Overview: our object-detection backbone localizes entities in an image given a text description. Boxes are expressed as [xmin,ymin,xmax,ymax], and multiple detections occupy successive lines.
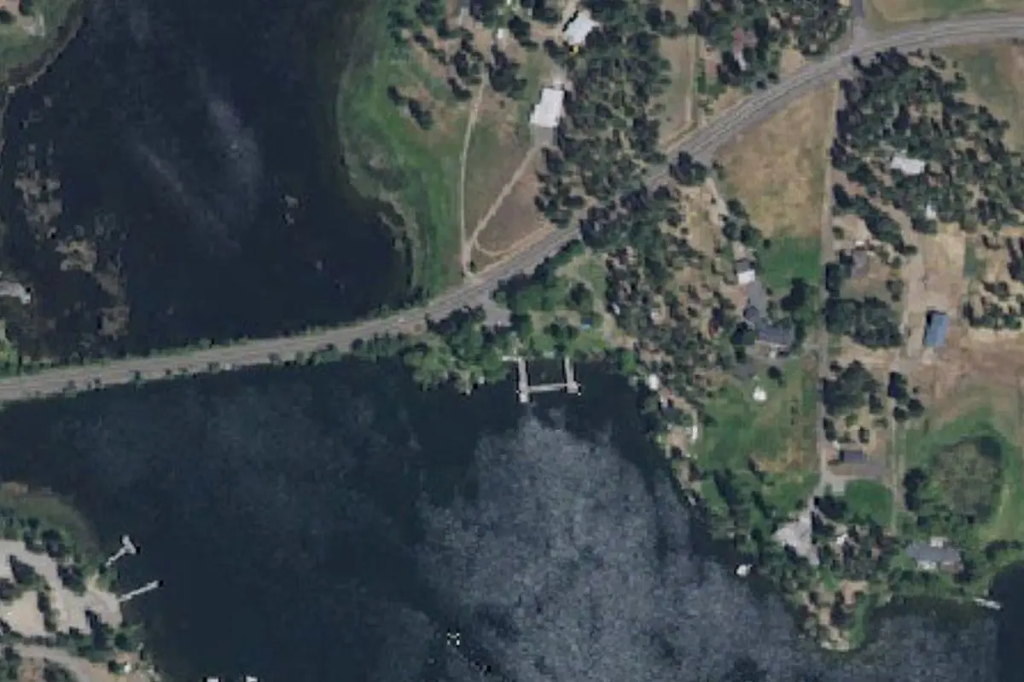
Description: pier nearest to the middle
[503,356,581,401]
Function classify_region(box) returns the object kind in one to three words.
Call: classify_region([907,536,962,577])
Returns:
house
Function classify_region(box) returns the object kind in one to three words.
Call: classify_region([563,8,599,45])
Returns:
house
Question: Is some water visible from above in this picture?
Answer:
Yes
